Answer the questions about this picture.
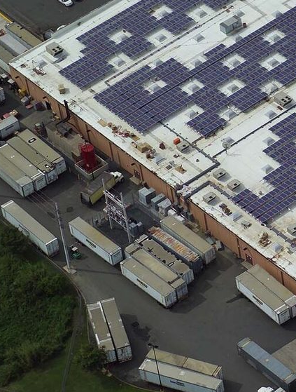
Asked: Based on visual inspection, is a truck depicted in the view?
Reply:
Yes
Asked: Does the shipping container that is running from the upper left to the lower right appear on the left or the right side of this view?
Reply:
right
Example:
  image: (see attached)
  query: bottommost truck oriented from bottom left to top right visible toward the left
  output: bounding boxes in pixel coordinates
[78,172,130,210]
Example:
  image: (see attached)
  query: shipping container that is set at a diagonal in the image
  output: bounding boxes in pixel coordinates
[237,336,296,392]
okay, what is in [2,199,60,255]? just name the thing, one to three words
trailer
